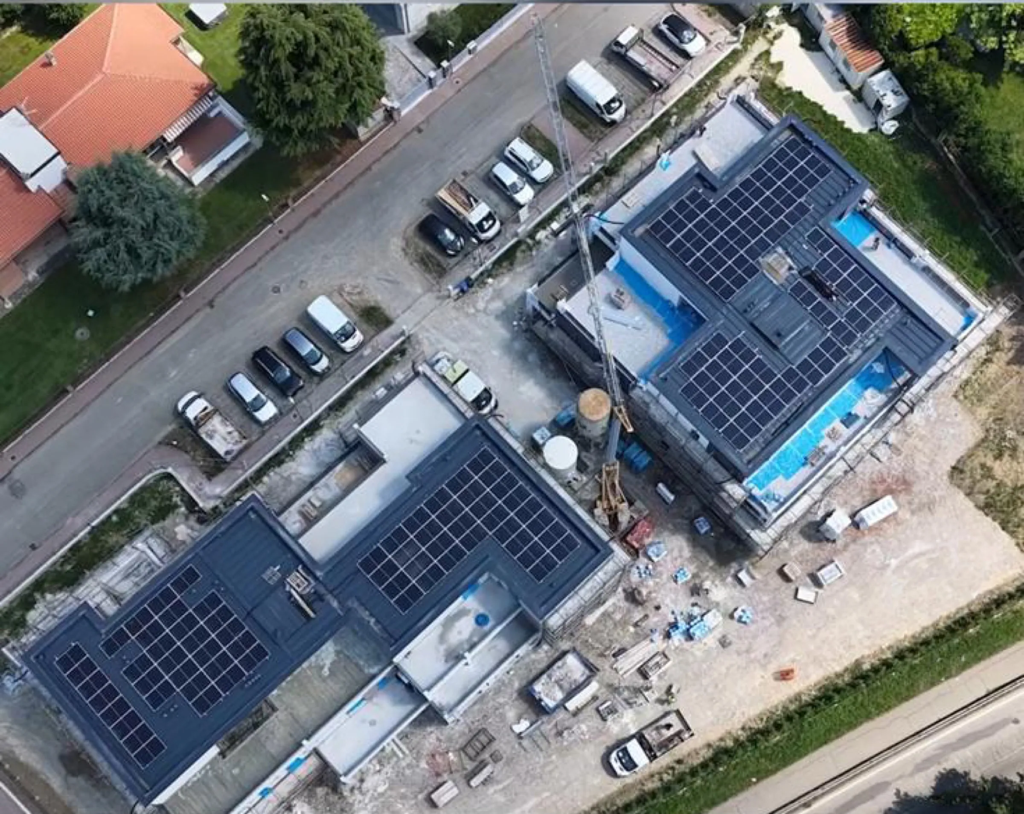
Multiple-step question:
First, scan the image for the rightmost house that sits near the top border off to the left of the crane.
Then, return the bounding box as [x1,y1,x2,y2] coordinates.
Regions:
[348,0,416,61]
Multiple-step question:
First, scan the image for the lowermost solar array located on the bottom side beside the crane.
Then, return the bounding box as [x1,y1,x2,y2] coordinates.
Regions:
[359,447,578,613]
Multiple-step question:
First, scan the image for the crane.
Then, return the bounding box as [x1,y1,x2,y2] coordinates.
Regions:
[531,12,640,534]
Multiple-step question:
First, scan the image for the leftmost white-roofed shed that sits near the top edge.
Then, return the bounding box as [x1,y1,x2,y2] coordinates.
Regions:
[189,0,235,35]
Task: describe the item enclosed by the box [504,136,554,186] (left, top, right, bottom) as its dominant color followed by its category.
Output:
white car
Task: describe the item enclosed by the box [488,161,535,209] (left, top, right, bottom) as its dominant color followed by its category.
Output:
white car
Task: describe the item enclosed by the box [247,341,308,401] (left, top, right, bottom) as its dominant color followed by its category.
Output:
black car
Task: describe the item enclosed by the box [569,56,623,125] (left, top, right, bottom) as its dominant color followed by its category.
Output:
white van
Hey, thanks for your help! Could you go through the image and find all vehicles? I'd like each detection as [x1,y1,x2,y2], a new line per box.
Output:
[504,136,554,186]
[604,704,701,786]
[247,341,308,401]
[604,18,679,91]
[279,322,332,379]
[437,174,502,245]
[306,293,364,352]
[425,342,503,423]
[417,211,466,261]
[171,390,249,464]
[224,370,282,426]
[488,161,535,209]
[569,56,623,125]
[656,10,708,63]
